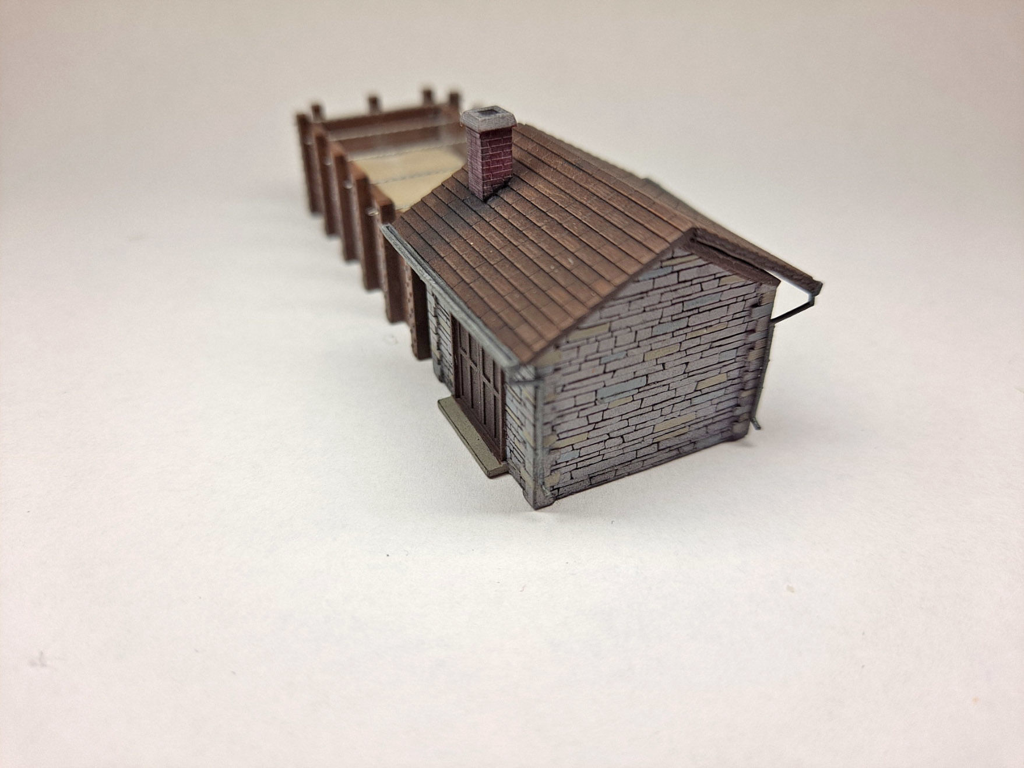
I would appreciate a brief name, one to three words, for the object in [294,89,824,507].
building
